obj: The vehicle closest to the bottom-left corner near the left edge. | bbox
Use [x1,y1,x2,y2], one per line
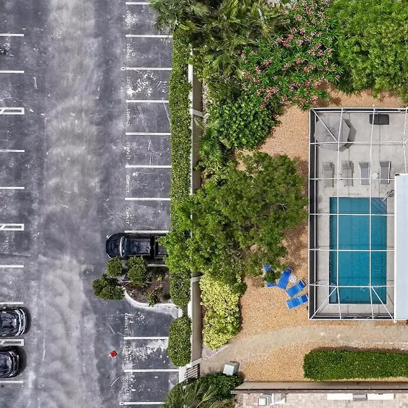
[0,349,23,377]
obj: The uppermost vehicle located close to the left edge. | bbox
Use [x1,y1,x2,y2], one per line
[0,307,29,339]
